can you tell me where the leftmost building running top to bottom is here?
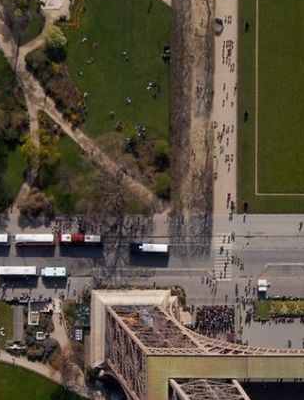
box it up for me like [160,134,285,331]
[13,305,26,342]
